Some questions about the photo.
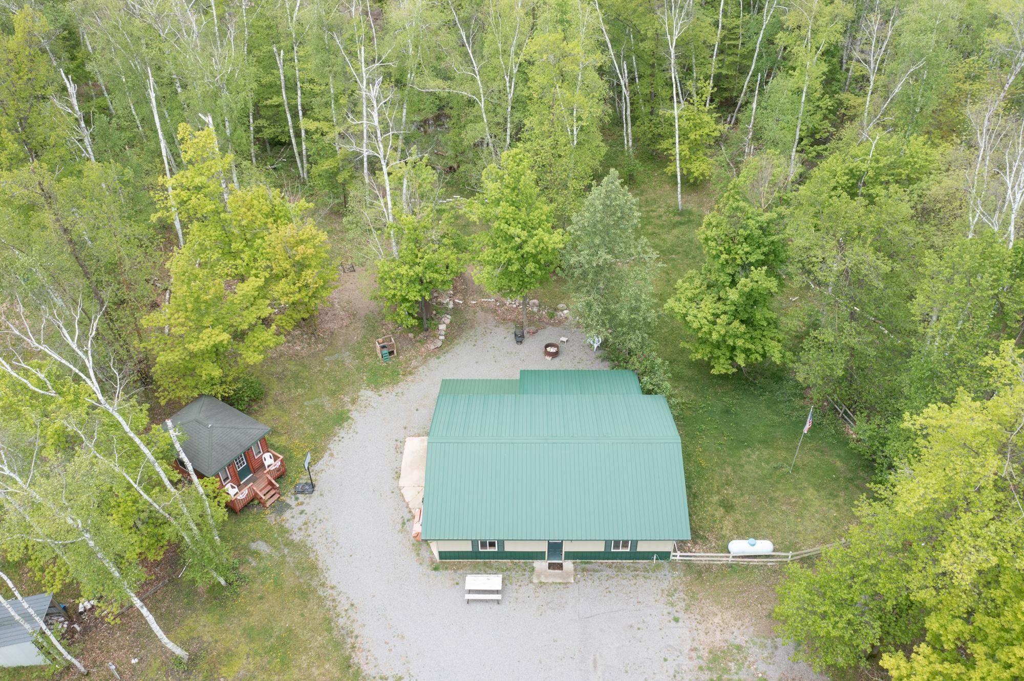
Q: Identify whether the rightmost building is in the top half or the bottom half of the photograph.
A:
bottom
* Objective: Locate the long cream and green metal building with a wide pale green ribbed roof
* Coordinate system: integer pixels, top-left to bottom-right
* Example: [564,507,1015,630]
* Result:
[422,370,691,563]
